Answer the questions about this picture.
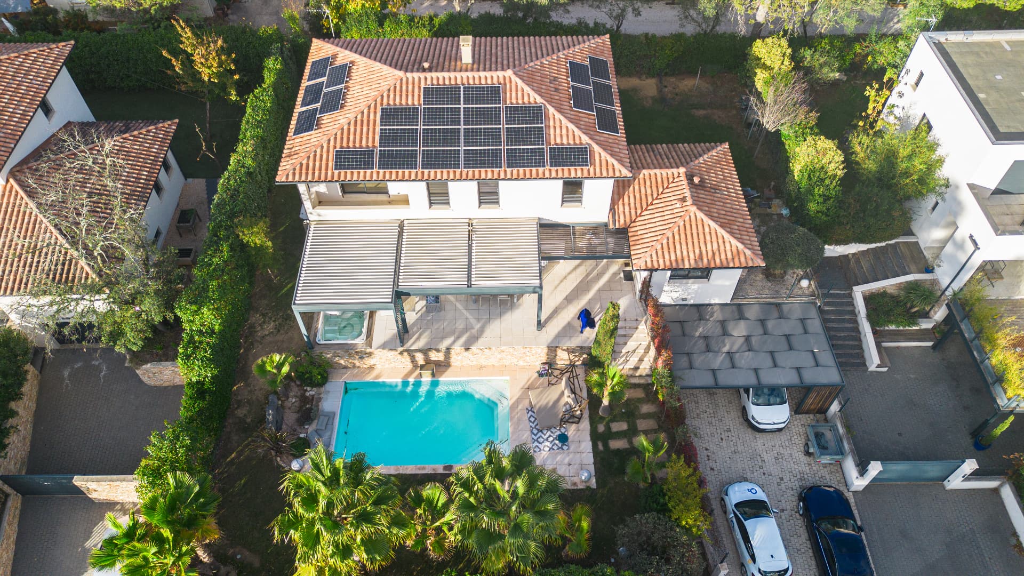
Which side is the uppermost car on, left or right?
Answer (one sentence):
The uppermost car sits on the right side.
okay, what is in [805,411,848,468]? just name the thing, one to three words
trailer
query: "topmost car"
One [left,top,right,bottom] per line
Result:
[740,388,802,434]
